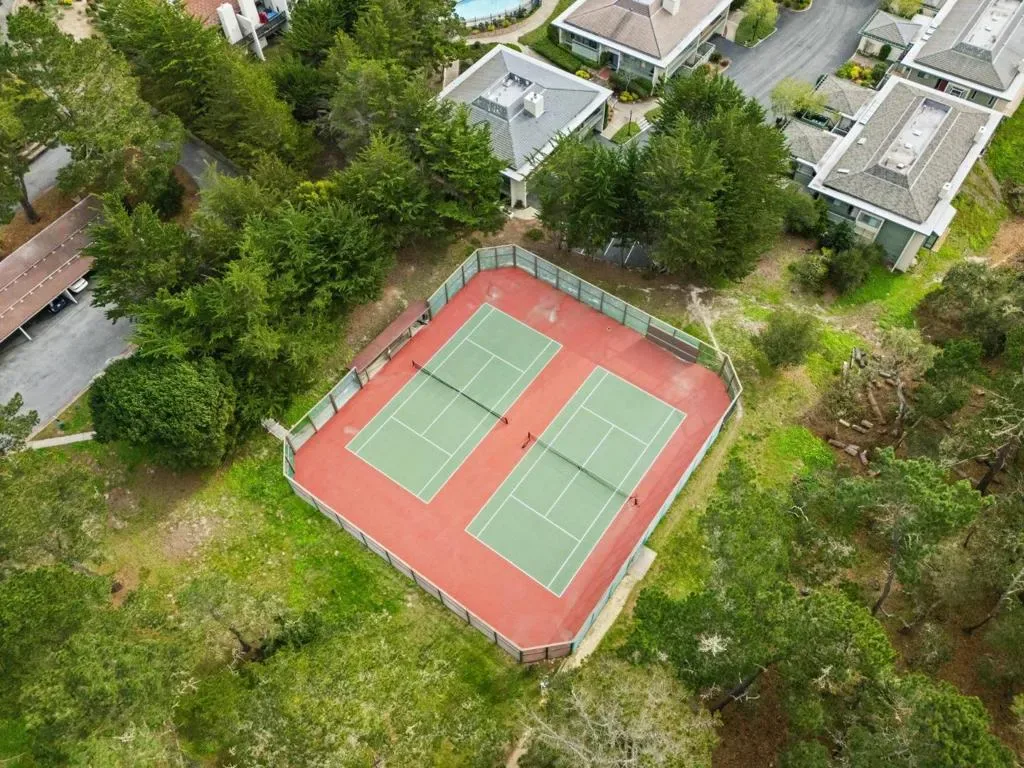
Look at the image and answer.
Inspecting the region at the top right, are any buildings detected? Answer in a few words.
Yes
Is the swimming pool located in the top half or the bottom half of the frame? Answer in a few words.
top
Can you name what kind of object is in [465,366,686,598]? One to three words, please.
tennis court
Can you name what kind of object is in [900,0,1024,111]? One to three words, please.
house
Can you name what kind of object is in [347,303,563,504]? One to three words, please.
tennis court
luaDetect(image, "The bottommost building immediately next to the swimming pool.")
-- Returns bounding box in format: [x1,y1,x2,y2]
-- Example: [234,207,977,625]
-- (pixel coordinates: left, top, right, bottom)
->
[435,45,615,210]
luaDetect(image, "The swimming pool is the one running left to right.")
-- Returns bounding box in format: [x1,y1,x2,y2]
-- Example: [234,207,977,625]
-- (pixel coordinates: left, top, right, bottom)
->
[435,0,530,28]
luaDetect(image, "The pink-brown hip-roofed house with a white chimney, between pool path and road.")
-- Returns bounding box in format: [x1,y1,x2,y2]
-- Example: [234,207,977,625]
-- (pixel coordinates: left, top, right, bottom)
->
[549,0,735,89]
